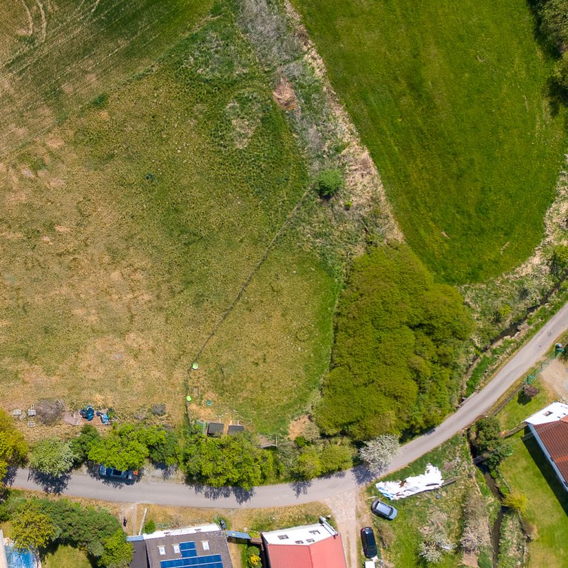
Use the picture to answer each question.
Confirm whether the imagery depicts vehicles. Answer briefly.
Yes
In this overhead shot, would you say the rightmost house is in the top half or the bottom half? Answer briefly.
bottom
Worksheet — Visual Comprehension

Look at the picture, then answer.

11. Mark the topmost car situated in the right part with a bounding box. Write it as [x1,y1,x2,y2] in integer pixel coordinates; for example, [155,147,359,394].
[370,498,399,521]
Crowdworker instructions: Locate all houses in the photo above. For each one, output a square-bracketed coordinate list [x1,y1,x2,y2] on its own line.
[259,524,347,568]
[144,525,233,568]
[525,404,568,494]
